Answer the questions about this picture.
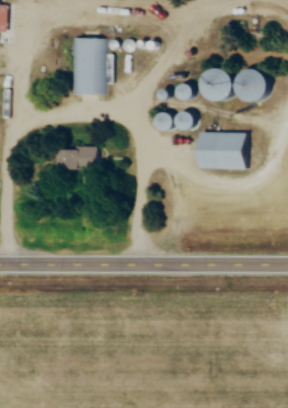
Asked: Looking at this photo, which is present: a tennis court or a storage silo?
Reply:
storage silo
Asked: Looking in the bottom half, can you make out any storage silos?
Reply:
No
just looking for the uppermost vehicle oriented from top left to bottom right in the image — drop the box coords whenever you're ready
[150,0,170,20]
